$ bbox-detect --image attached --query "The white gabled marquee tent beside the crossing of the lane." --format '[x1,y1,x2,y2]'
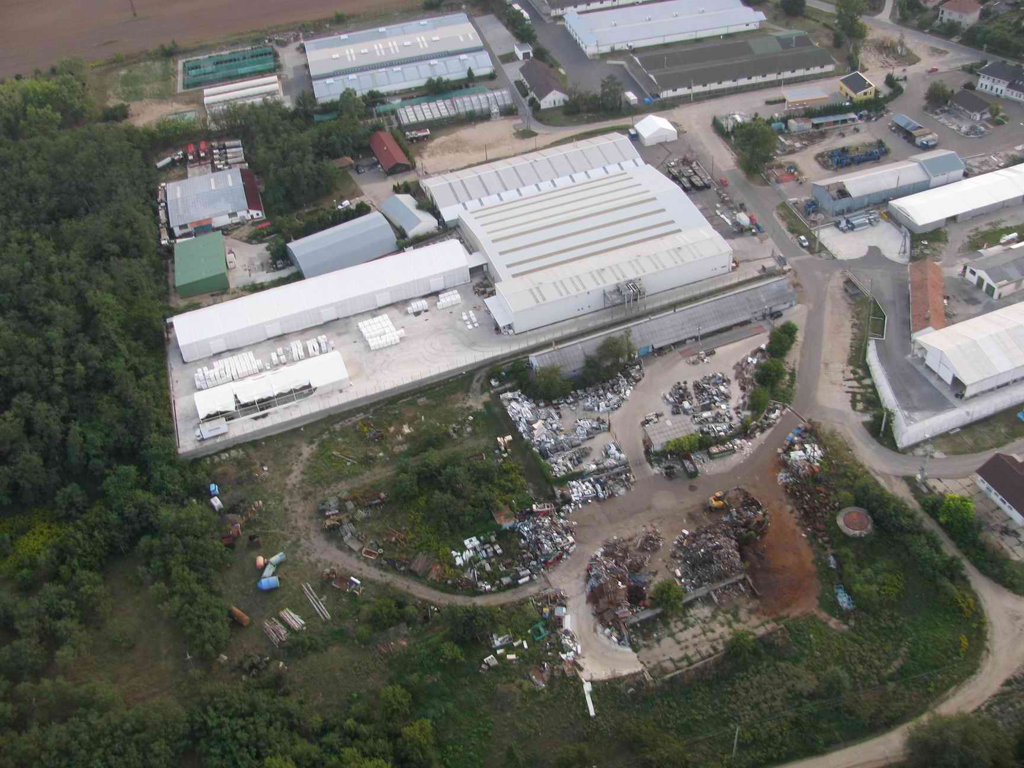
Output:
[633,112,676,146]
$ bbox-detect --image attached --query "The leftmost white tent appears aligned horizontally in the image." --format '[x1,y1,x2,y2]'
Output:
[195,352,348,425]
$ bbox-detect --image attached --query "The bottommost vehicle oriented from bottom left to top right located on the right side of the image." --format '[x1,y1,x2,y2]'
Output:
[706,482,738,512]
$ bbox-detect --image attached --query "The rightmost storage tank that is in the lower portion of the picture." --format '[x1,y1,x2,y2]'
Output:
[833,506,875,538]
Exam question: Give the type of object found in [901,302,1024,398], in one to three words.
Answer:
building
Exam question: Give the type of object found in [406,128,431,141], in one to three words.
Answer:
vehicle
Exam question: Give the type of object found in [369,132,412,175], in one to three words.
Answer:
house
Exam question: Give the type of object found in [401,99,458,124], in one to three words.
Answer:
greenhouse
